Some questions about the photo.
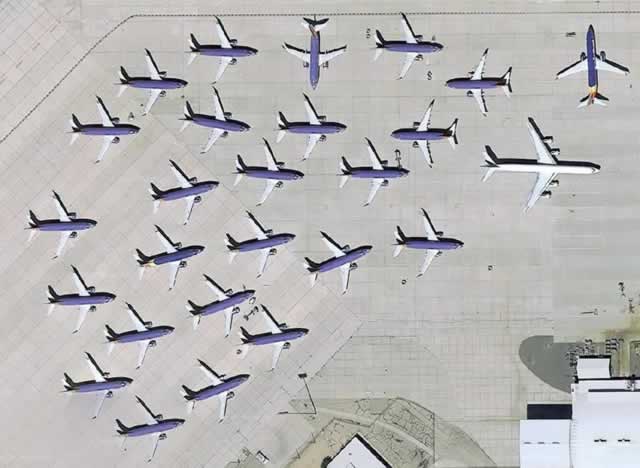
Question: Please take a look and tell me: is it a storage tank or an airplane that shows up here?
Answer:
airplane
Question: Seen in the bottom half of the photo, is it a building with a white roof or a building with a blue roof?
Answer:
building with a white roof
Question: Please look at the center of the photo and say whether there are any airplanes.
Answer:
Yes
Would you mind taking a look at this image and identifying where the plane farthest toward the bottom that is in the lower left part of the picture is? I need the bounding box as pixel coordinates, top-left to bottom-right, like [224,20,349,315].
[113,400,185,461]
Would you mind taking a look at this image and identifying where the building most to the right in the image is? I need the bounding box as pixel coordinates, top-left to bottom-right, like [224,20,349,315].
[572,381,640,468]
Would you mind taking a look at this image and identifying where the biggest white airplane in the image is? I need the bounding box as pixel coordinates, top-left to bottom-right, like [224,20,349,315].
[479,121,599,215]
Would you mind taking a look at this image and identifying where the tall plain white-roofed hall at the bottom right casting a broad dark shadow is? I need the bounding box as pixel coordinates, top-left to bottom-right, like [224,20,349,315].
[520,420,572,468]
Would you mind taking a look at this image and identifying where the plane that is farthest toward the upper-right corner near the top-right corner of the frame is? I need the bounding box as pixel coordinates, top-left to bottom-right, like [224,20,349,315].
[552,26,628,109]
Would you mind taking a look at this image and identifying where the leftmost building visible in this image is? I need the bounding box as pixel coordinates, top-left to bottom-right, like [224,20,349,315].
[327,437,386,468]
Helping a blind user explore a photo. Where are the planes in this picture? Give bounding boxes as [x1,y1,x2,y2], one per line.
[132,228,204,289]
[184,278,254,338]
[178,89,250,149]
[113,400,185,461]
[179,362,249,422]
[68,98,140,160]
[391,104,459,167]
[279,24,345,90]
[271,95,346,158]
[479,121,599,215]
[232,139,304,202]
[148,164,219,225]
[446,53,514,117]
[114,52,188,114]
[236,309,308,371]
[301,235,372,294]
[103,307,174,368]
[184,19,258,82]
[332,139,408,202]
[46,269,116,331]
[24,194,97,256]
[552,26,628,109]
[222,216,295,277]
[387,211,462,274]
[367,14,442,78]
[63,356,133,417]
